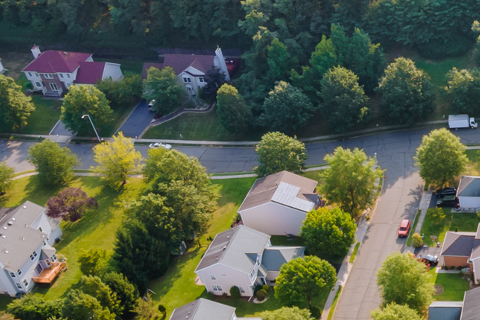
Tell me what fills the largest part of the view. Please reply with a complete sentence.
The largest share of the image is taken up by trees.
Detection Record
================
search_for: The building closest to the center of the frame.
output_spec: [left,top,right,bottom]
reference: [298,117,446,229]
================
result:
[235,169,322,235]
